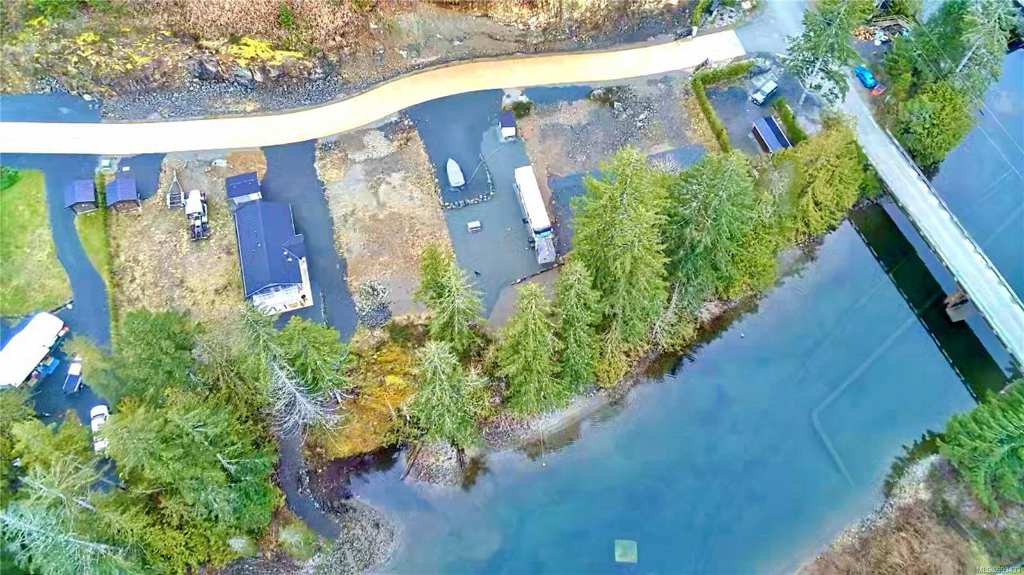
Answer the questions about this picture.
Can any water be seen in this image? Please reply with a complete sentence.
Yes, water can be seen from above here.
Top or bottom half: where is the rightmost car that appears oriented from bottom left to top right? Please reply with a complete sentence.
You can find the rightmost car that appears oriented from bottom left to top right in the top half.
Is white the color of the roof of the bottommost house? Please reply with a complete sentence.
No, the roof of the bottommost house is blue.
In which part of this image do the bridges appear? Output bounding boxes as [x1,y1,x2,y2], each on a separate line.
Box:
[853,132,1024,375]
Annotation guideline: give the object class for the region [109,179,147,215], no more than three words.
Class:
shed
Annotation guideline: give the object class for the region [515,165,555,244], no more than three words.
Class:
camper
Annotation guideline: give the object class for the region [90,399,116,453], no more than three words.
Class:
truck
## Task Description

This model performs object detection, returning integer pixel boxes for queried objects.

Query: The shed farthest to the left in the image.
[67,181,101,217]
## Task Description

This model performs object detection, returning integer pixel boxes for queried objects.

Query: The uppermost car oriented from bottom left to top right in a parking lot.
[750,78,780,108]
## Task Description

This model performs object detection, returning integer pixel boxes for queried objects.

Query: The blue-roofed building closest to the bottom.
[236,204,316,322]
